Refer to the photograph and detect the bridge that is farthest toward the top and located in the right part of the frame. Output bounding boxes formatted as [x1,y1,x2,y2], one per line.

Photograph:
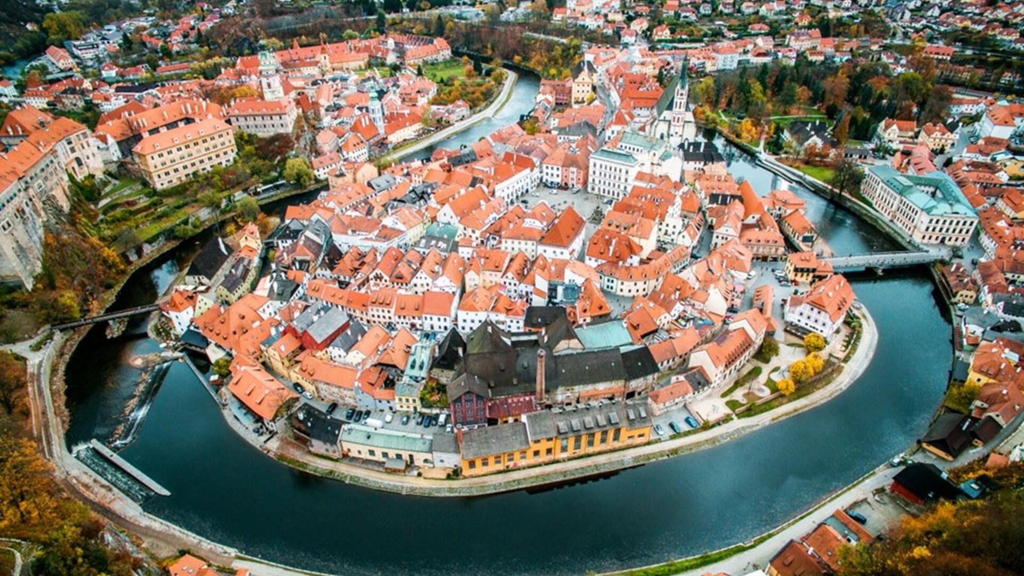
[817,246,963,278]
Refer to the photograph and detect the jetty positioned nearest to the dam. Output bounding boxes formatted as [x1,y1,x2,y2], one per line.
[89,438,175,501]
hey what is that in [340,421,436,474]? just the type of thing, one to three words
house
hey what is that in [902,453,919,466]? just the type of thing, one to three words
vehicle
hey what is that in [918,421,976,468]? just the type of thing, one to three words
house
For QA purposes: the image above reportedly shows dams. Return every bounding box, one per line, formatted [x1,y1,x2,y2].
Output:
[112,363,170,449]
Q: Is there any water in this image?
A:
Yes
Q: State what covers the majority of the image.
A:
buildings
